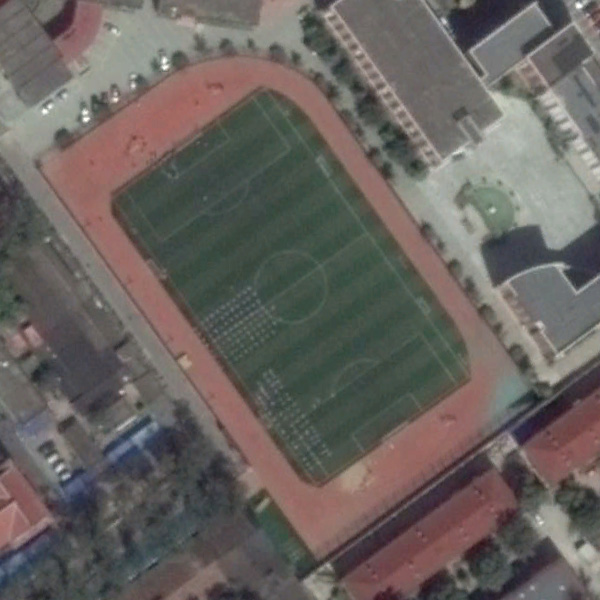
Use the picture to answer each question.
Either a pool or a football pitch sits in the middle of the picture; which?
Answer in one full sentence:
You can see a football pitch in the middle of the picture.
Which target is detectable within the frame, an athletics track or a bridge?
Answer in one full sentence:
There is an athletics track in the scene.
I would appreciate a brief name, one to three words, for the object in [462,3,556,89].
building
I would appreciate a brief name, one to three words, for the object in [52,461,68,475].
vehicle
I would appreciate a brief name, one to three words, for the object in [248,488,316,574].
sports field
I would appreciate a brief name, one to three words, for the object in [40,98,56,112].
vehicle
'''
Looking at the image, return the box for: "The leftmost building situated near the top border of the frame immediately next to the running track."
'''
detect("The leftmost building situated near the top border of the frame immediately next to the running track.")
[0,0,73,112]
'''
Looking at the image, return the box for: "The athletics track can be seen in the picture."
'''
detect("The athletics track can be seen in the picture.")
[38,56,532,560]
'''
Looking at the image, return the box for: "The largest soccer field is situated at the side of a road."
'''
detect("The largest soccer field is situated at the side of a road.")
[117,91,466,481]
